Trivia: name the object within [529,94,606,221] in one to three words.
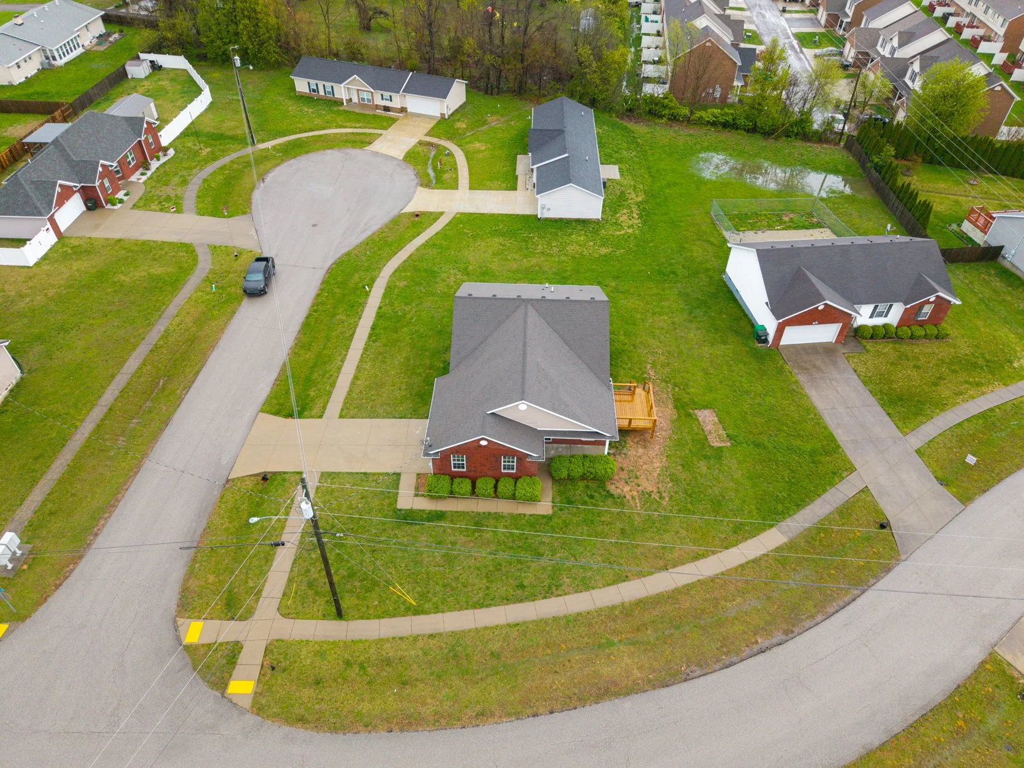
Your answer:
house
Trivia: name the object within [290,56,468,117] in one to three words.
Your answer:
house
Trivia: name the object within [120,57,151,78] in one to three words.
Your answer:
shed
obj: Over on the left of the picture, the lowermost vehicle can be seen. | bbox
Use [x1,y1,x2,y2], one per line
[242,255,278,294]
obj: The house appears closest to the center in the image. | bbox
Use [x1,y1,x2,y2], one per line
[421,282,619,481]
